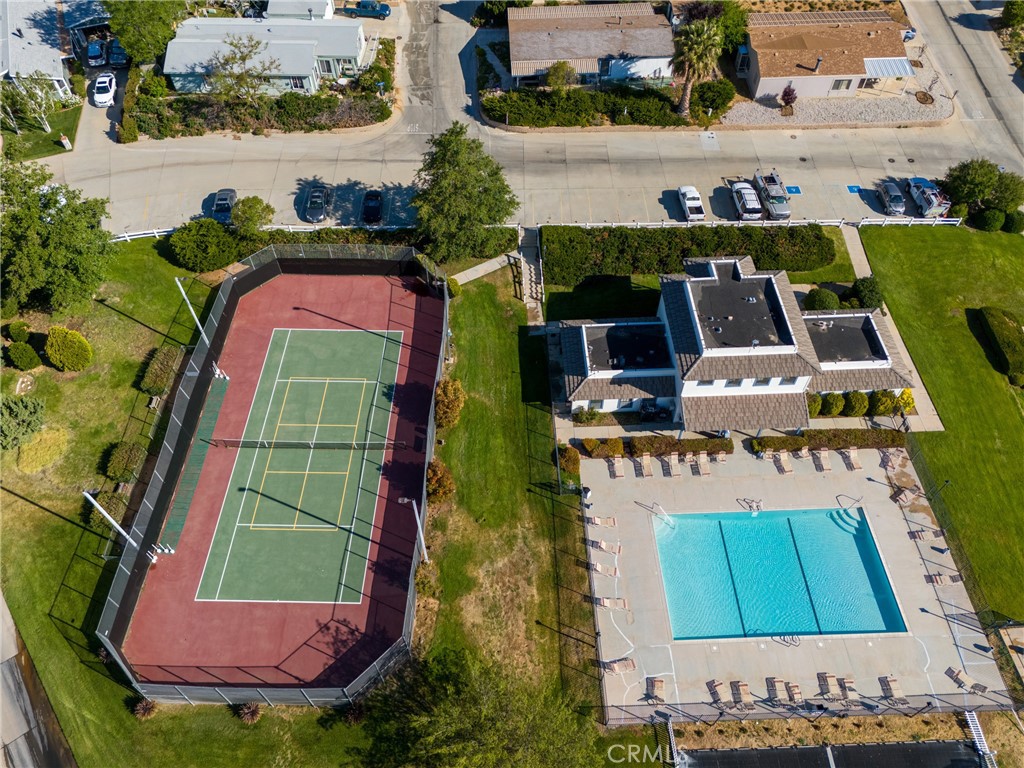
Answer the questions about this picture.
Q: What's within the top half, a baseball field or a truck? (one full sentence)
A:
What appears within the top half is a truck.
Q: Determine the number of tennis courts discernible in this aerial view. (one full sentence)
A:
Only 1 tennis court is visible.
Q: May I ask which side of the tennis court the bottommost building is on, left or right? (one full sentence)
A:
The tennis court has the bottommost building on its right side.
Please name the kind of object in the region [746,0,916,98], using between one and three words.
house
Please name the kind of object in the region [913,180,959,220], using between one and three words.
truck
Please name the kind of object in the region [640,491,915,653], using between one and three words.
swimming pool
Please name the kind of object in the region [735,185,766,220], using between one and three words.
car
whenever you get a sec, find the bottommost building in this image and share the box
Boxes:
[560,256,916,440]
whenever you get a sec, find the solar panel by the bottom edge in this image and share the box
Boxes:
[675,736,995,768]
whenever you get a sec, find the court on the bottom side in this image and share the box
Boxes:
[121,274,446,704]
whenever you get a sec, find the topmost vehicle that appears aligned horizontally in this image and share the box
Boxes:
[344,0,387,20]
